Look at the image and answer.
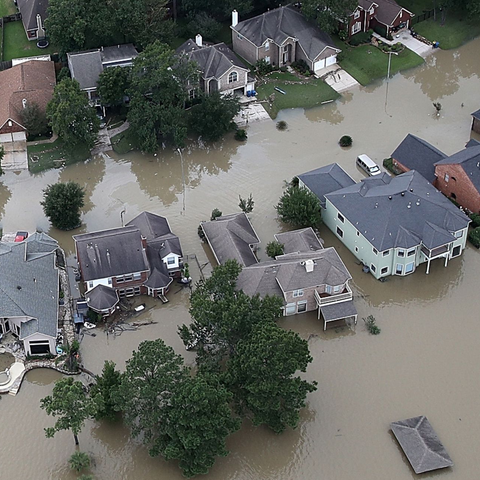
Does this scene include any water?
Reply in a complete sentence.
Yes, water can be seen from above here.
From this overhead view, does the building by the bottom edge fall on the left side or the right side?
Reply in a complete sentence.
The building by the bottom edge appears in the right half of the scene.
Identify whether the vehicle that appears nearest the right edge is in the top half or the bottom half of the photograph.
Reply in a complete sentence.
Seen from above, the vehicle that appears nearest the right edge lies in the top half of the view.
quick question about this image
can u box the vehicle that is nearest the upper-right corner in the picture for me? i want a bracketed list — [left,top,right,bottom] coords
[353,148,381,172]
